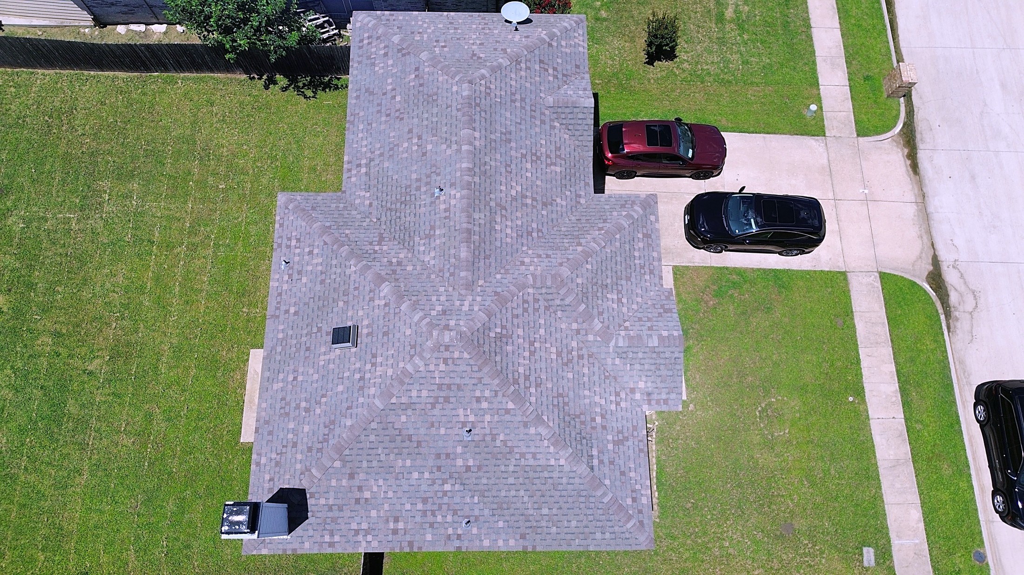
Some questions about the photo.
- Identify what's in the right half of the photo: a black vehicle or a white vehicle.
black vehicle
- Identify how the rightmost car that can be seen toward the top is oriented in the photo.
from side to side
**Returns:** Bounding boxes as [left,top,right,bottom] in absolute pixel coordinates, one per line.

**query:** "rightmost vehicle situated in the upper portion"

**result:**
[681,188,827,255]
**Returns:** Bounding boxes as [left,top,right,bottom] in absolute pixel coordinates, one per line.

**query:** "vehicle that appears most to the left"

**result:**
[598,115,728,179]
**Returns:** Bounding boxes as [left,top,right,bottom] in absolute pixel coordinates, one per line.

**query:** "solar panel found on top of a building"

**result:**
[331,321,350,345]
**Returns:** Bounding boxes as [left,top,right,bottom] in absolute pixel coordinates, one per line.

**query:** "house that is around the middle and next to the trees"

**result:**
[219,10,686,554]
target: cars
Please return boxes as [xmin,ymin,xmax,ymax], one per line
[598,115,728,179]
[973,380,1024,532]
[681,188,827,255]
